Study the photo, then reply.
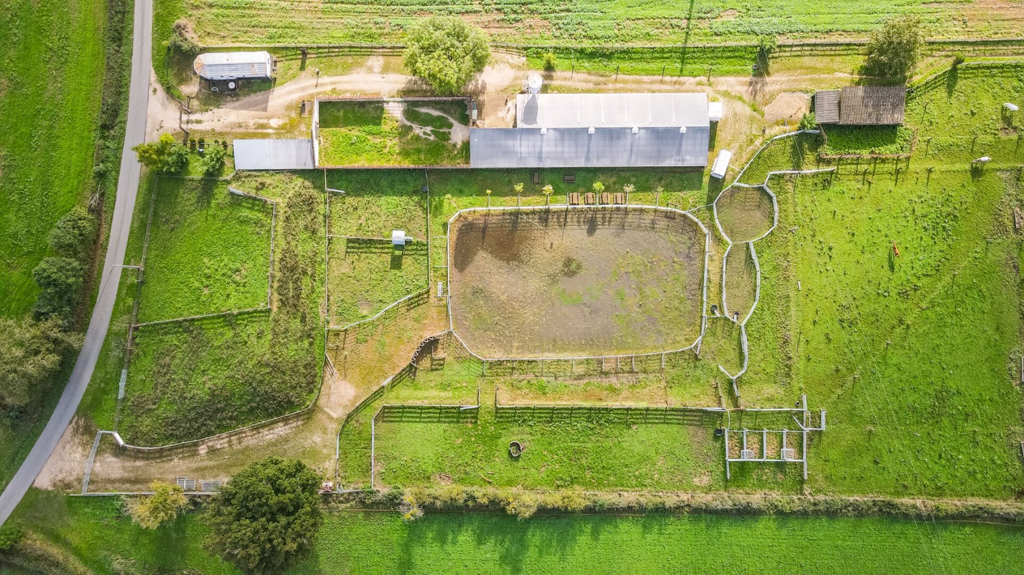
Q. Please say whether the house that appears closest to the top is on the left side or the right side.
left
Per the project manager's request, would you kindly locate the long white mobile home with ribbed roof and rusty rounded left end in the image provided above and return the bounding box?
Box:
[194,51,271,80]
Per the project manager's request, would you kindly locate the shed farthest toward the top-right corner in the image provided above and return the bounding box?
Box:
[835,85,906,128]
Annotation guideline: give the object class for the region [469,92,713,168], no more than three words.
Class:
barn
